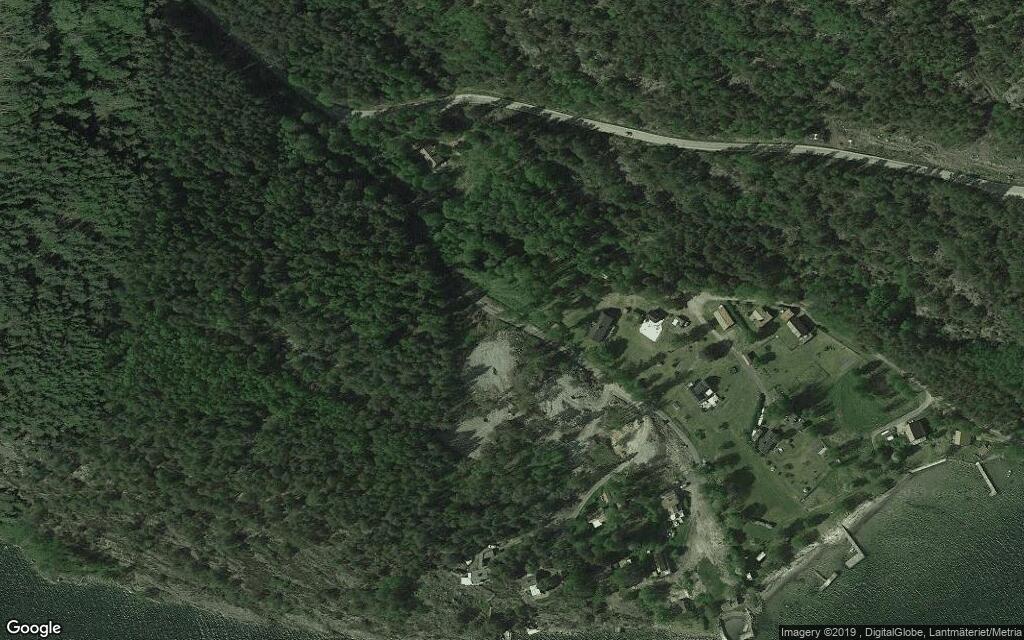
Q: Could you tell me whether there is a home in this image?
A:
Yes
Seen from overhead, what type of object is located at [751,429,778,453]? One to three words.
house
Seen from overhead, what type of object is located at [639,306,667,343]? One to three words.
house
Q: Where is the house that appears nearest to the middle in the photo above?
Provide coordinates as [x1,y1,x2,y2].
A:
[590,311,615,339]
